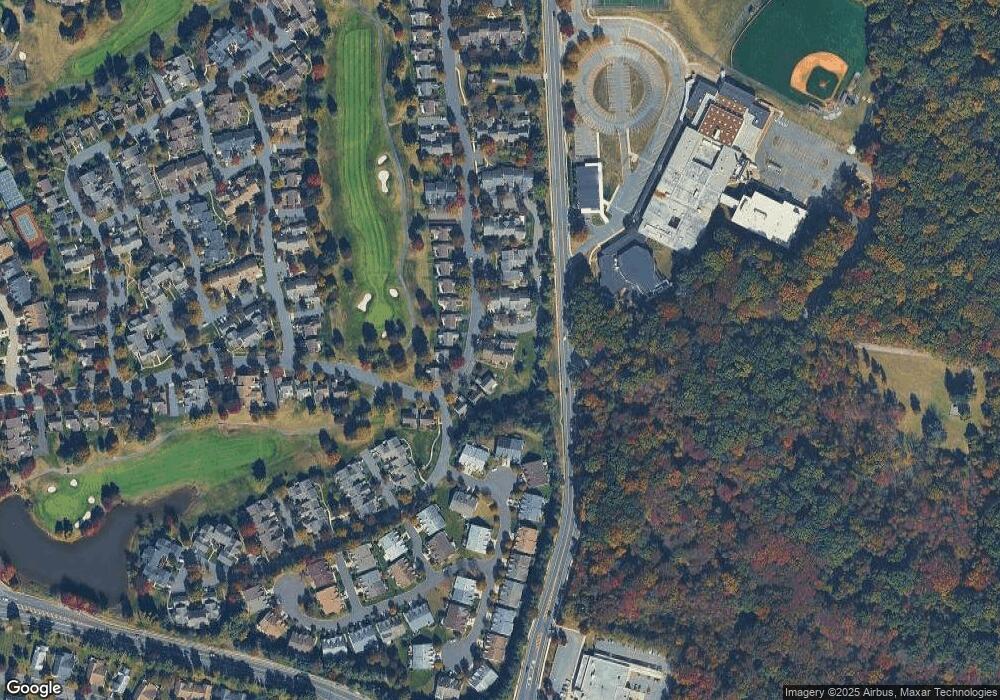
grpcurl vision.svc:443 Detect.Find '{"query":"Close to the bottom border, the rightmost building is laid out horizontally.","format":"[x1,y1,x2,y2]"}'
[569,654,667,700]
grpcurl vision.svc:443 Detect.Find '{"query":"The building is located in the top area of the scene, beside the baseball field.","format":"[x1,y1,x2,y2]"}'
[638,79,808,249]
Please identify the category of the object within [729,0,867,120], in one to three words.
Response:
baseball field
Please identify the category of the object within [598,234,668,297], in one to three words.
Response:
building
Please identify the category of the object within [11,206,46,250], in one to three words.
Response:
tennis court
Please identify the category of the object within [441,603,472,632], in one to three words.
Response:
house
